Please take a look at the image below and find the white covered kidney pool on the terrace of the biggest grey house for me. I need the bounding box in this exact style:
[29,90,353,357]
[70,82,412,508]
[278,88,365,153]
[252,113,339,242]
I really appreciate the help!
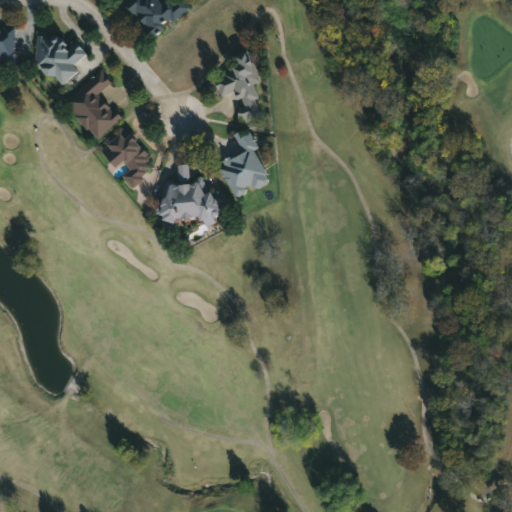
[189,224,209,242]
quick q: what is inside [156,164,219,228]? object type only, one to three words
house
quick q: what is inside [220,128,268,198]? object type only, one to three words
house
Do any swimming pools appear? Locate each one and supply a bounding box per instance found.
[114,166,128,179]
[189,224,209,242]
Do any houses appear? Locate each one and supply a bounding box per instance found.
[220,128,268,198]
[156,164,219,228]
[71,68,123,140]
[127,0,192,37]
[0,26,16,58]
[35,34,87,84]
[106,134,151,190]
[216,51,263,108]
